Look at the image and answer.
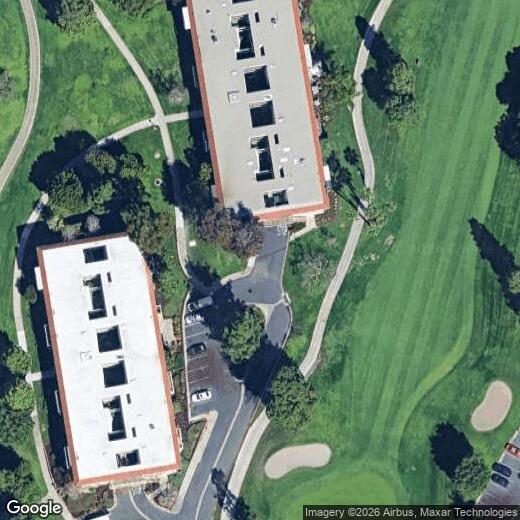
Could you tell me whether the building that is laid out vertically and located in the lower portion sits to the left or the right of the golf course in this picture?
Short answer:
to the left of it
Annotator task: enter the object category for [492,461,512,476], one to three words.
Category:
car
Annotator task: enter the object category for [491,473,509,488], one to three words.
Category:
car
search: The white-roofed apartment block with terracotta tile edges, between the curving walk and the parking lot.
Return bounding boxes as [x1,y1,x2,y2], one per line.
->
[29,228,185,492]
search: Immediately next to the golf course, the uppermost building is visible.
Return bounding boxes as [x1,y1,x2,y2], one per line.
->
[177,0,333,232]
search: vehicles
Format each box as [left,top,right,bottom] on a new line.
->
[185,313,205,324]
[491,473,509,488]
[187,298,212,311]
[187,343,207,355]
[505,443,520,458]
[191,391,211,401]
[492,461,512,476]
